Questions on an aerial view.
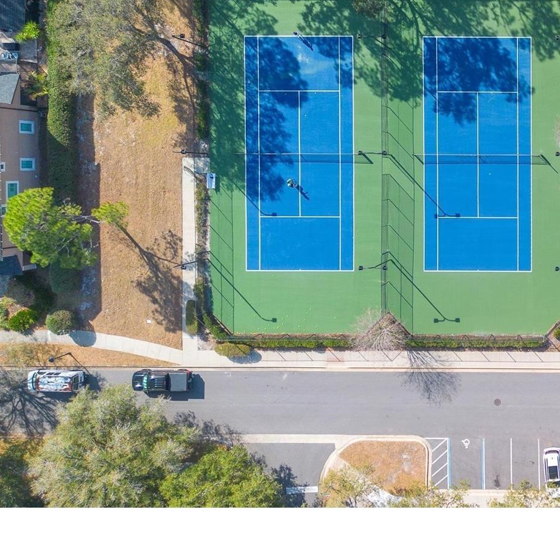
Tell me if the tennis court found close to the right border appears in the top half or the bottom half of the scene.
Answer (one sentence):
You can find the tennis court found close to the right border in the top half.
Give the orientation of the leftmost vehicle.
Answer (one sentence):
The leftmost vehicle runs from left to right in the image.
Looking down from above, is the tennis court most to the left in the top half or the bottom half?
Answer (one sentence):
The top half of the photo is where the tennis court most to the left is.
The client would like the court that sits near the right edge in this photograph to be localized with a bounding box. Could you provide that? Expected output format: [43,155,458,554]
[389,0,560,336]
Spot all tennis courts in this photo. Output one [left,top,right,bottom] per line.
[389,0,560,336]
[209,0,390,336]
